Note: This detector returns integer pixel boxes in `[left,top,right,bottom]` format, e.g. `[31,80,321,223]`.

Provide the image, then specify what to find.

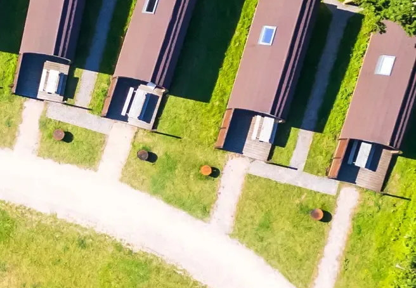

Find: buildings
[100,0,197,129]
[323,19,416,193]
[9,0,86,103]
[212,0,321,161]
